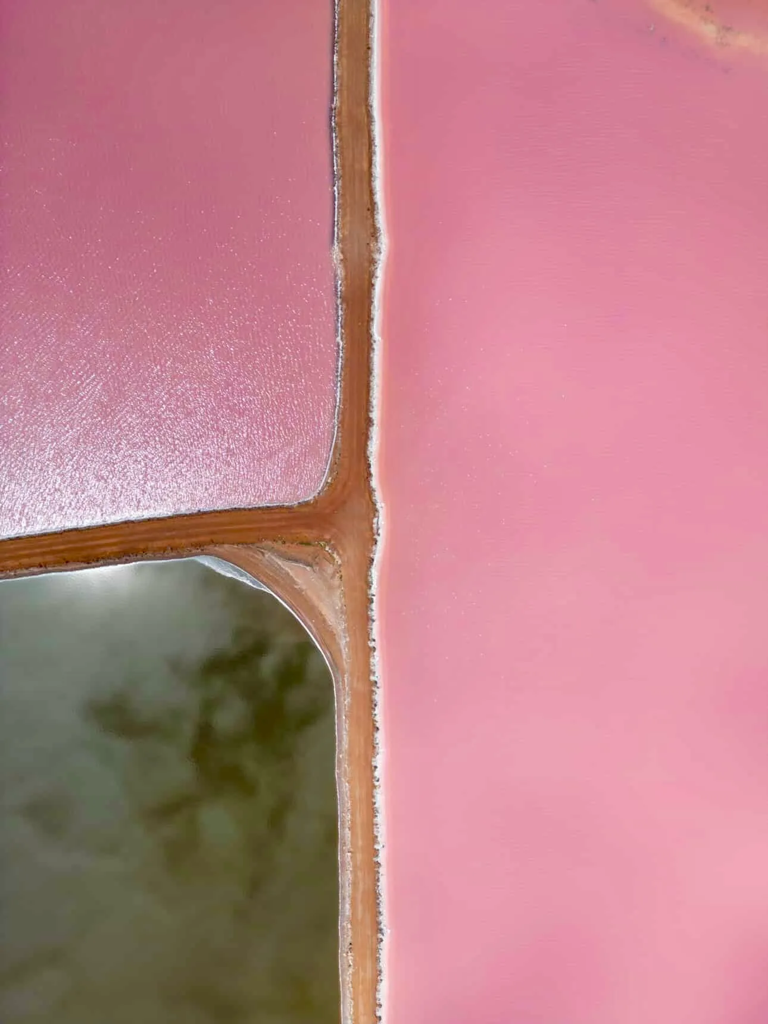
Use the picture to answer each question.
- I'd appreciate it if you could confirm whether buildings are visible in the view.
No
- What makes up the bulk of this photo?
water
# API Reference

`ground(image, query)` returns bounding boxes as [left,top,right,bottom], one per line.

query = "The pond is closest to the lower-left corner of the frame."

[0,557,342,1024]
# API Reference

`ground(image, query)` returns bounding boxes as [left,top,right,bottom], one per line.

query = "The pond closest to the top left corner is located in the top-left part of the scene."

[0,0,340,538]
